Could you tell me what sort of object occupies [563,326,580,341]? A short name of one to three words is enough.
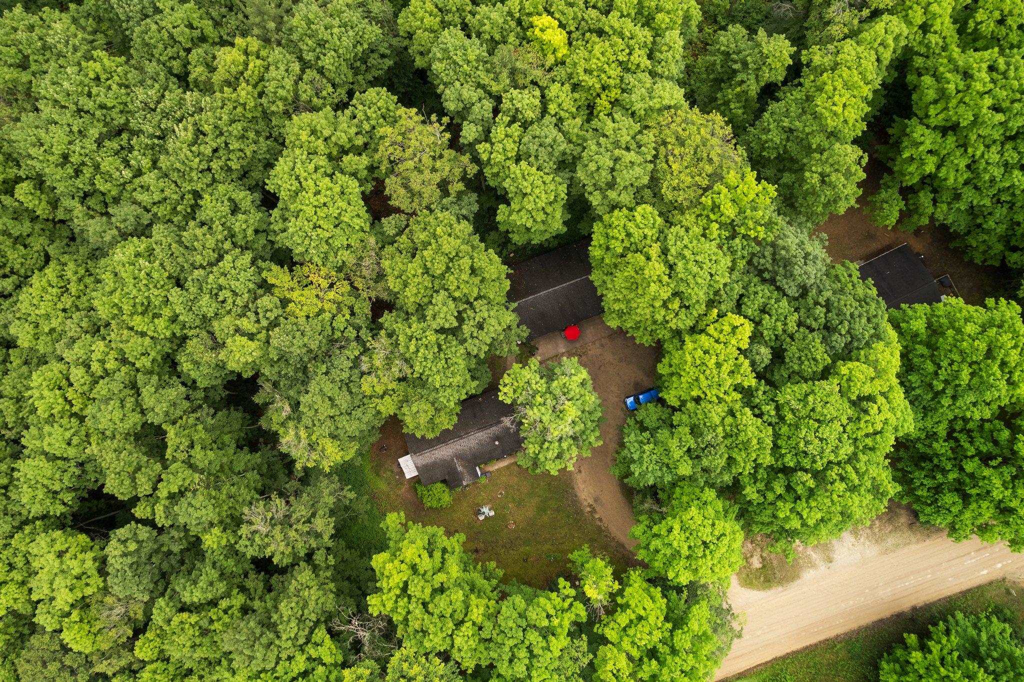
umbrella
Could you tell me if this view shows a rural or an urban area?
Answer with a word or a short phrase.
rural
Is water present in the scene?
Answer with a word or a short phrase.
No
